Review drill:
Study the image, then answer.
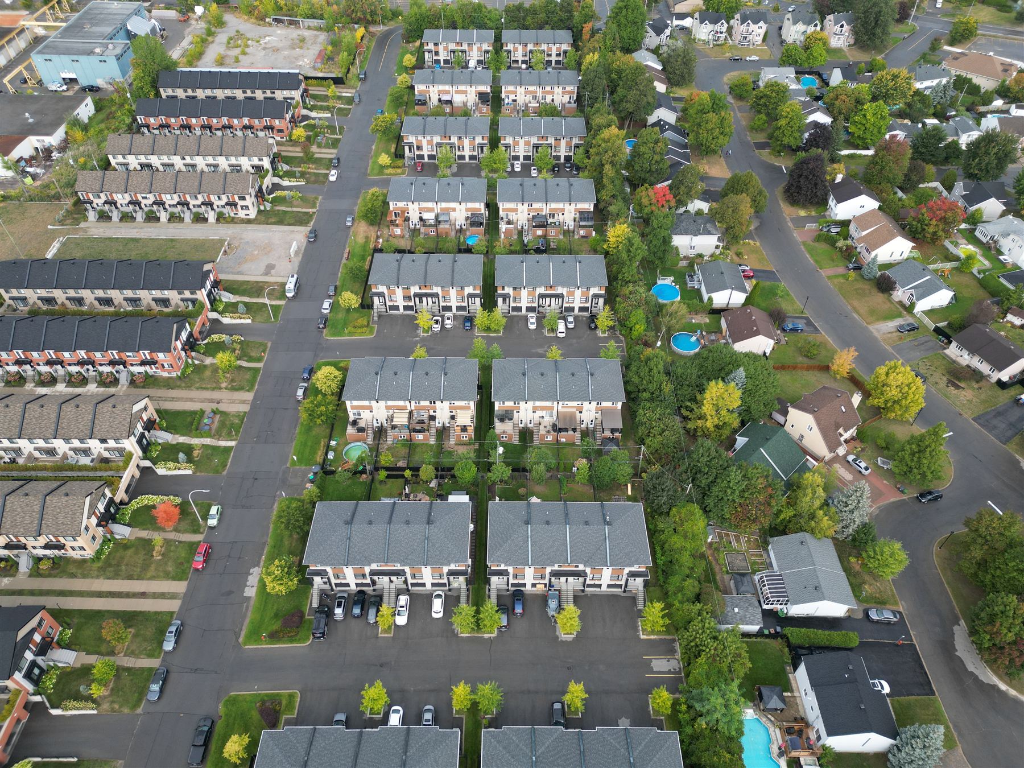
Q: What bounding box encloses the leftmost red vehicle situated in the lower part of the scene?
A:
[193,543,212,570]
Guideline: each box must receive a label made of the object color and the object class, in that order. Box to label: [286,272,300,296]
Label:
white vehicle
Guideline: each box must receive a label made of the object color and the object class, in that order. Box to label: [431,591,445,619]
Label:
white car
